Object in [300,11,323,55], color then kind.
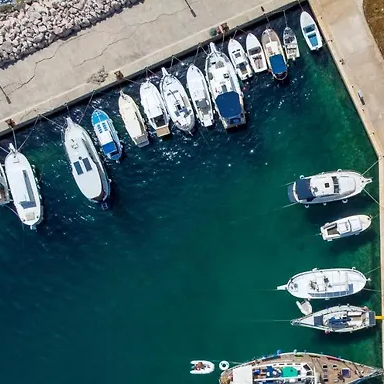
white boat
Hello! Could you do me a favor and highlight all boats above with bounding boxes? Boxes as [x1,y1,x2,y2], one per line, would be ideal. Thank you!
[142,75,172,140]
[187,64,218,131]
[190,359,216,374]
[292,303,373,335]
[229,38,255,83]
[0,162,12,206]
[94,110,124,163]
[205,37,251,137]
[300,11,323,55]
[274,266,372,301]
[282,27,302,64]
[117,87,151,149]
[319,215,371,242]
[219,348,384,384]
[286,168,374,206]
[294,298,311,313]
[262,27,290,81]
[2,142,43,229]
[245,32,271,78]
[59,112,112,209]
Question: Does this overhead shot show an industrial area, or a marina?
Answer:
marina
